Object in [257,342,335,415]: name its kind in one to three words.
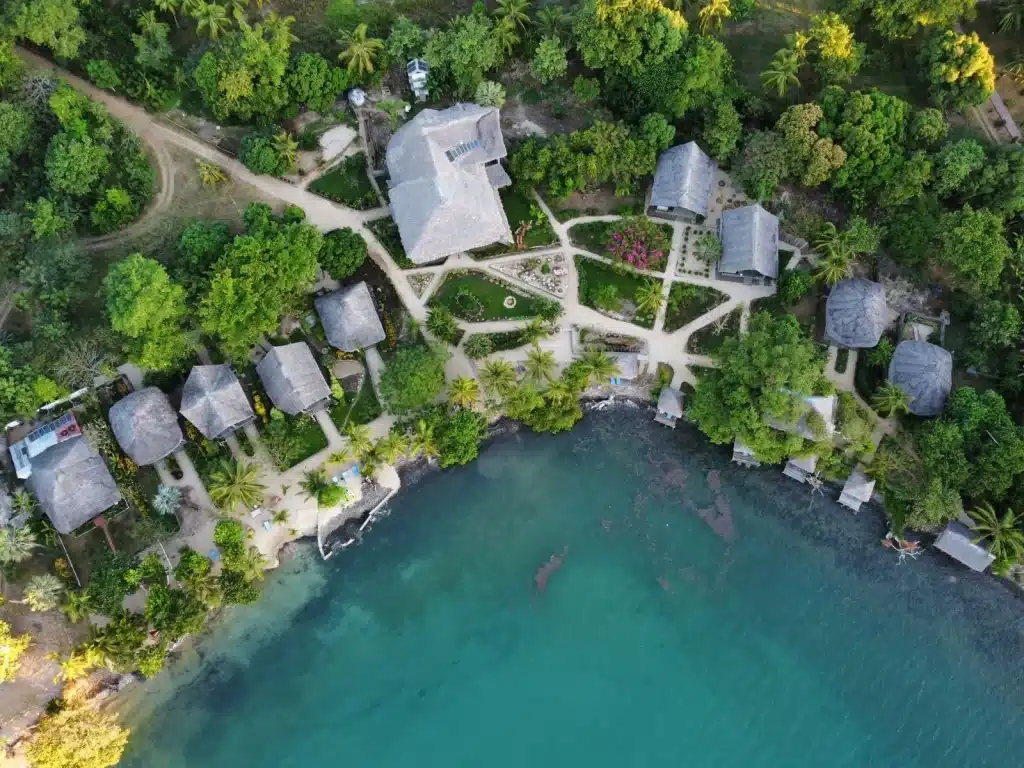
shed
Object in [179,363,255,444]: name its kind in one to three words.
shed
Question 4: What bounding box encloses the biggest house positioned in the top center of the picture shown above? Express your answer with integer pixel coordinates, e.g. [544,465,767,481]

[387,103,513,265]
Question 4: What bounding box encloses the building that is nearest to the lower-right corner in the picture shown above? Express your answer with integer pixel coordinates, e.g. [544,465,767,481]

[925,516,998,572]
